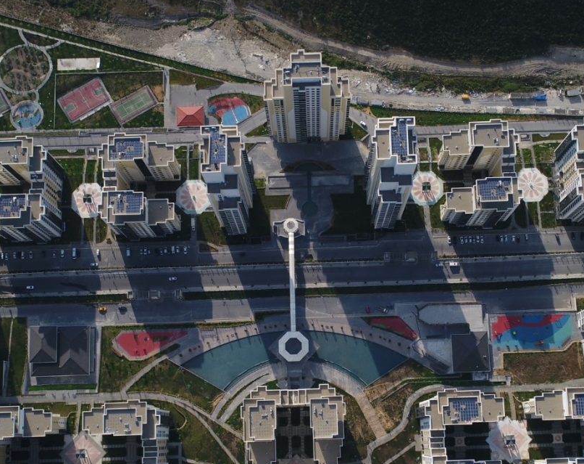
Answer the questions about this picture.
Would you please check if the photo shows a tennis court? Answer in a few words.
Yes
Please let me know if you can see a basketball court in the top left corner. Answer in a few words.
Yes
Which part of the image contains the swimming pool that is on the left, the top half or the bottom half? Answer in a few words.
bottom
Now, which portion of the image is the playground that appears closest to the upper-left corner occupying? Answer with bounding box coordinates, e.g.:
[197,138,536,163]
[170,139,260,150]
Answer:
[13,104,40,128]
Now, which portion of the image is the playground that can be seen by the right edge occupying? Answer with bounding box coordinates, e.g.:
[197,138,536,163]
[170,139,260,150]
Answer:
[491,312,573,349]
